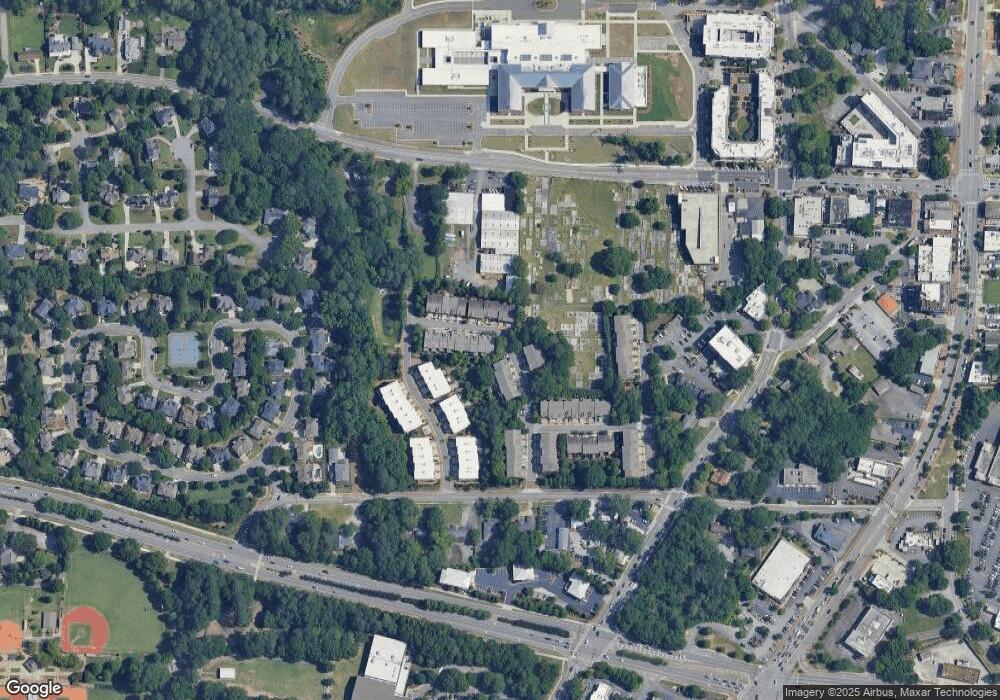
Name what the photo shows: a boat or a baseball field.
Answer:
baseball field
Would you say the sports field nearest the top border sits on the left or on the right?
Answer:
right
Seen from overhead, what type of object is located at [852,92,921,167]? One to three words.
building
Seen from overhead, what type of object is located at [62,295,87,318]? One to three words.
house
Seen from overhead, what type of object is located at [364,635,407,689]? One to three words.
building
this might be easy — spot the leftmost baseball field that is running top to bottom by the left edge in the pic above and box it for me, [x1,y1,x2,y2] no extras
[0,586,24,658]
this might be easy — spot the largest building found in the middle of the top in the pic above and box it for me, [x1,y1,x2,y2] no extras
[422,18,603,111]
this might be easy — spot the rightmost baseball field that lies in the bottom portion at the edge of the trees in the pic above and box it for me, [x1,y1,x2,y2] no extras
[60,546,163,655]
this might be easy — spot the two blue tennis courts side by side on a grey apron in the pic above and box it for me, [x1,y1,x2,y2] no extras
[169,332,200,366]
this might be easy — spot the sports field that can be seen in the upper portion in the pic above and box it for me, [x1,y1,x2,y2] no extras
[637,53,692,121]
